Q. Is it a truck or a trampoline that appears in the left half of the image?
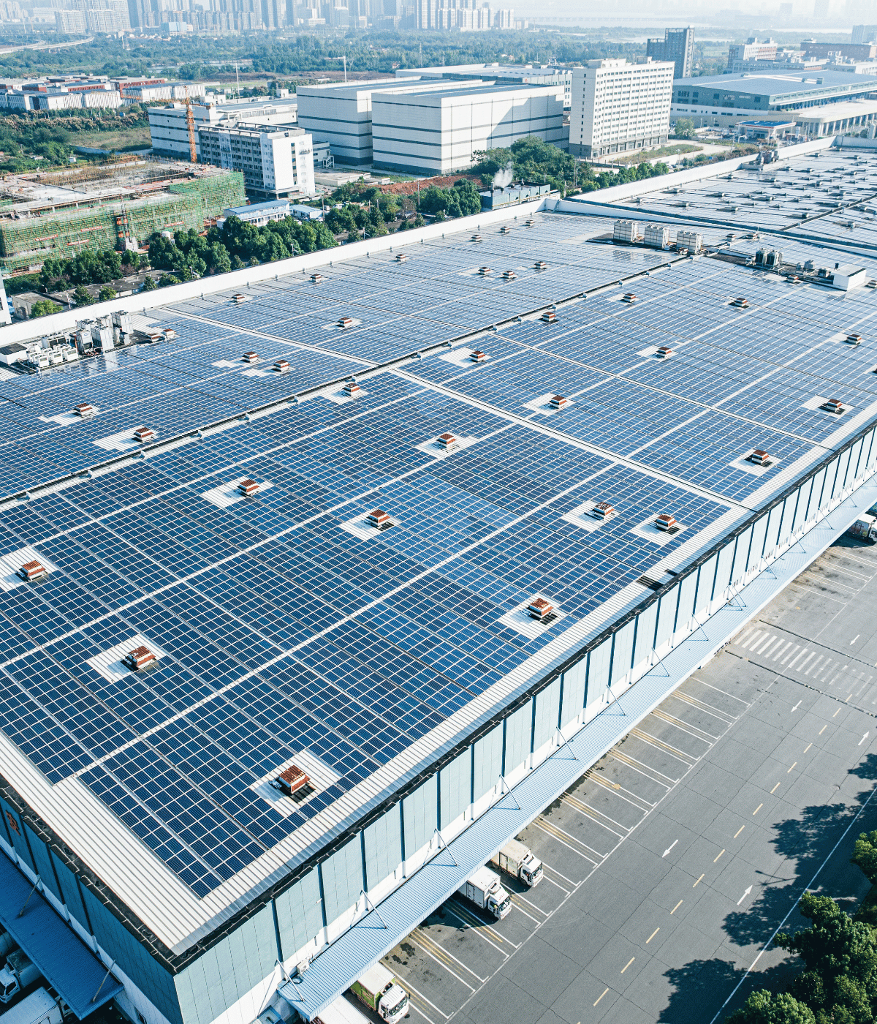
truck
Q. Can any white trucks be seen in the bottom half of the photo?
Yes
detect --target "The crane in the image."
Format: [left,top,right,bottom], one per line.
[114,83,220,163]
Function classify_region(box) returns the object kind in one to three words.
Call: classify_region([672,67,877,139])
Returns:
building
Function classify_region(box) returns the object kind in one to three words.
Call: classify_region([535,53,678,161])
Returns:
building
